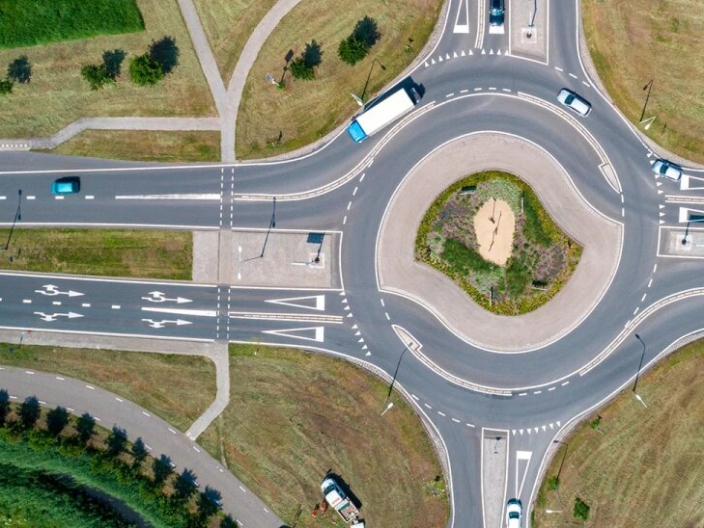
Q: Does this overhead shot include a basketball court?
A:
No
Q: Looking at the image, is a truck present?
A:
Yes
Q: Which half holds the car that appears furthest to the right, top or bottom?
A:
top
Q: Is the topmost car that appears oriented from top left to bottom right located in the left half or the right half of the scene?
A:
right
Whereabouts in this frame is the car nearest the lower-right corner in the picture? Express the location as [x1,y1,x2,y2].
[507,502,521,528]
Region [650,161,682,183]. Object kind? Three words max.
car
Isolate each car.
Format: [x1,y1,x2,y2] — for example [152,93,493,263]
[507,502,521,528]
[488,0,504,25]
[650,161,682,183]
[52,180,80,194]
[556,91,590,116]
